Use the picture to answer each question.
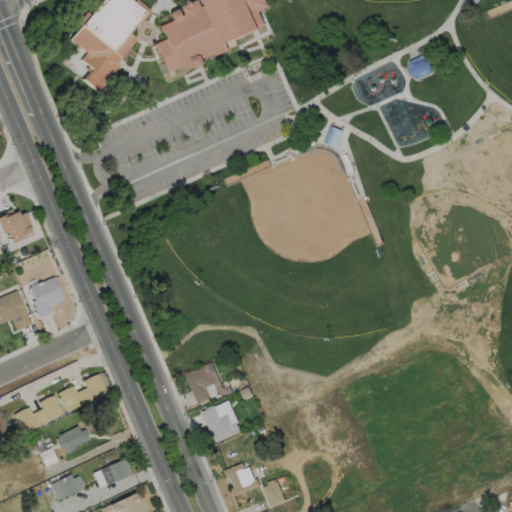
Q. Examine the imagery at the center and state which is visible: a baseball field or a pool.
baseball field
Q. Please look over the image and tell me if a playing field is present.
Yes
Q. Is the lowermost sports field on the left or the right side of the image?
right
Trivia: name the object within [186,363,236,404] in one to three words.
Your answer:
house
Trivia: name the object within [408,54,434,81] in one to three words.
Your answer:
building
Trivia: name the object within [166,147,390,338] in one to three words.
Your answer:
baseball field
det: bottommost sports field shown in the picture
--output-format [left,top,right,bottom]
[346,350,500,462]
